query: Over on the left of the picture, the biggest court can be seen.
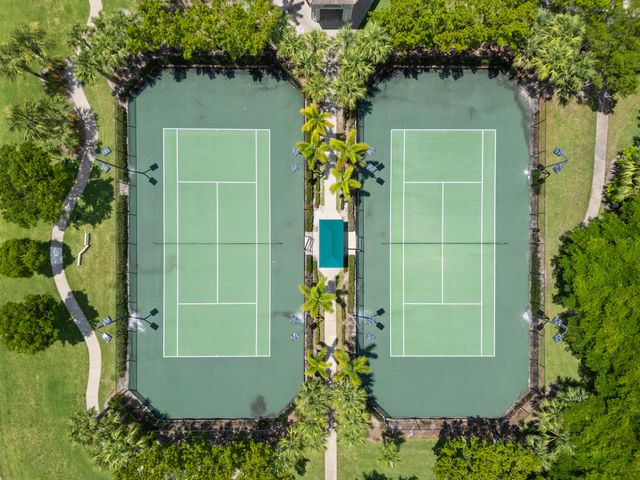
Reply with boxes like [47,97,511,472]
[129,69,304,418]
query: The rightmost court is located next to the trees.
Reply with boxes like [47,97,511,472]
[357,69,531,418]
